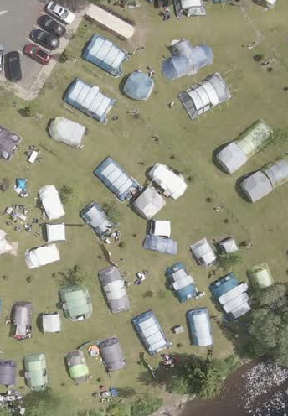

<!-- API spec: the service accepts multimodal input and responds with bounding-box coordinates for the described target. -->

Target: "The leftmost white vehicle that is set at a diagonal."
[47,2,76,26]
